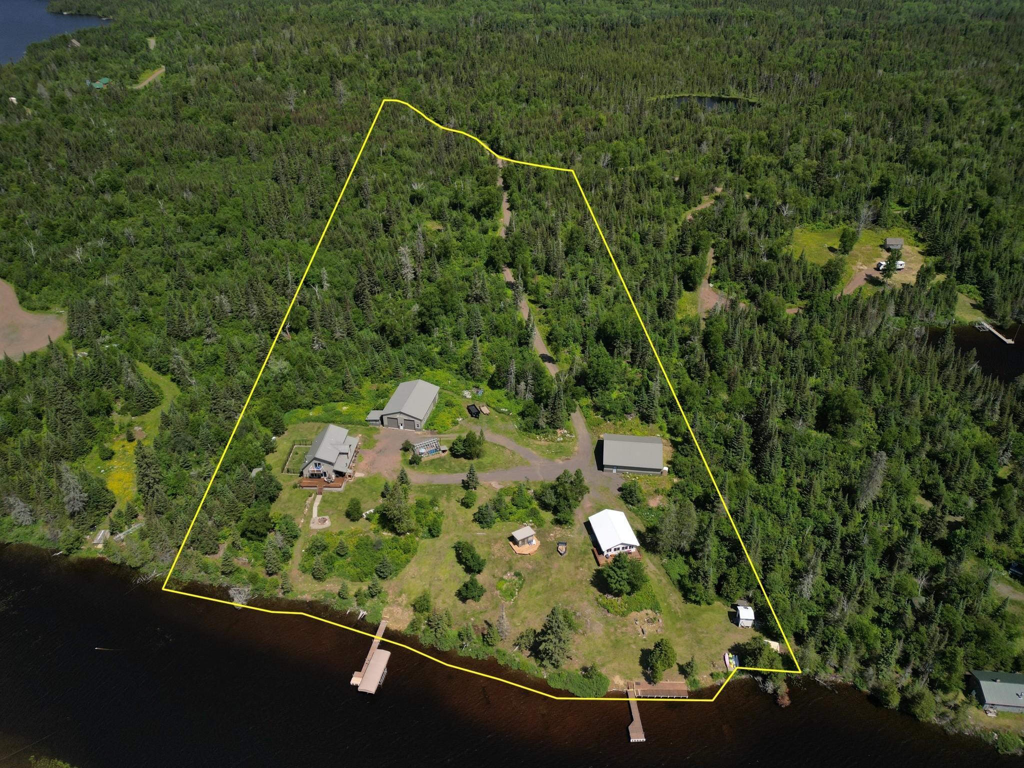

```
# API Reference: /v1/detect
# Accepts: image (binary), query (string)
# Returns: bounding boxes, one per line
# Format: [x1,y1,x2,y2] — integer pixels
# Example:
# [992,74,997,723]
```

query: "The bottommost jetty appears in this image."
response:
[624,682,646,742]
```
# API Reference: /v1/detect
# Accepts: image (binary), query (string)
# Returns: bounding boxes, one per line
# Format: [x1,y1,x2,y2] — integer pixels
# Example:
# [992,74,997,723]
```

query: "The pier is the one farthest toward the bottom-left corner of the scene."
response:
[350,615,389,688]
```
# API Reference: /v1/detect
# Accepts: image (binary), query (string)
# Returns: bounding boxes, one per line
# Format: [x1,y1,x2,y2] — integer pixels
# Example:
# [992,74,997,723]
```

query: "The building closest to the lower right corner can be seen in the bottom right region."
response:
[973,662,1024,716]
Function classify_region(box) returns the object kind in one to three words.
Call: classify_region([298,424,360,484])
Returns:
house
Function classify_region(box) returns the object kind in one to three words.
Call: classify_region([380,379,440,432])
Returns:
building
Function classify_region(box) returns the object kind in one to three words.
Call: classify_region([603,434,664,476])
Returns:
barn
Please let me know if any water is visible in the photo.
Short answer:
Yes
